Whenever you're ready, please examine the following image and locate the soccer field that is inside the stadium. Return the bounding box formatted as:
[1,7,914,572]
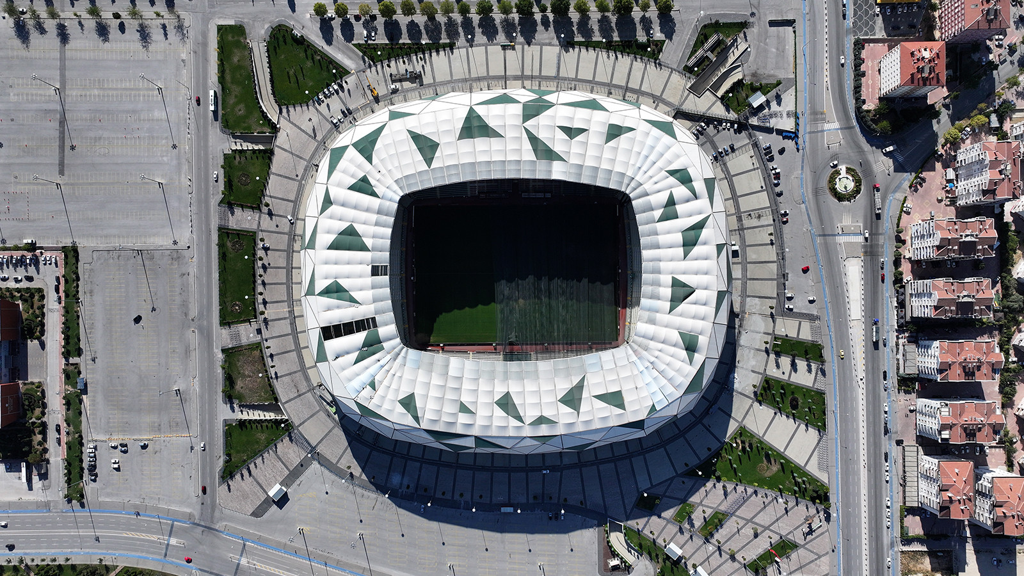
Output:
[407,196,627,352]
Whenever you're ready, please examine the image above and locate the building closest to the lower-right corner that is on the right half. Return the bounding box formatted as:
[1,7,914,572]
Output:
[970,469,1024,535]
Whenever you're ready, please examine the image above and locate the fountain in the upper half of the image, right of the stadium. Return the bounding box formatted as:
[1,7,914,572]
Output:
[837,175,855,194]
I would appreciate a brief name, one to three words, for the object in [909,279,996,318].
building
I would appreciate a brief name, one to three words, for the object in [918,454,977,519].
building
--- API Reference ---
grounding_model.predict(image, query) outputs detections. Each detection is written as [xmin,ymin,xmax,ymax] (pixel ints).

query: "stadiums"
[300,88,733,455]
